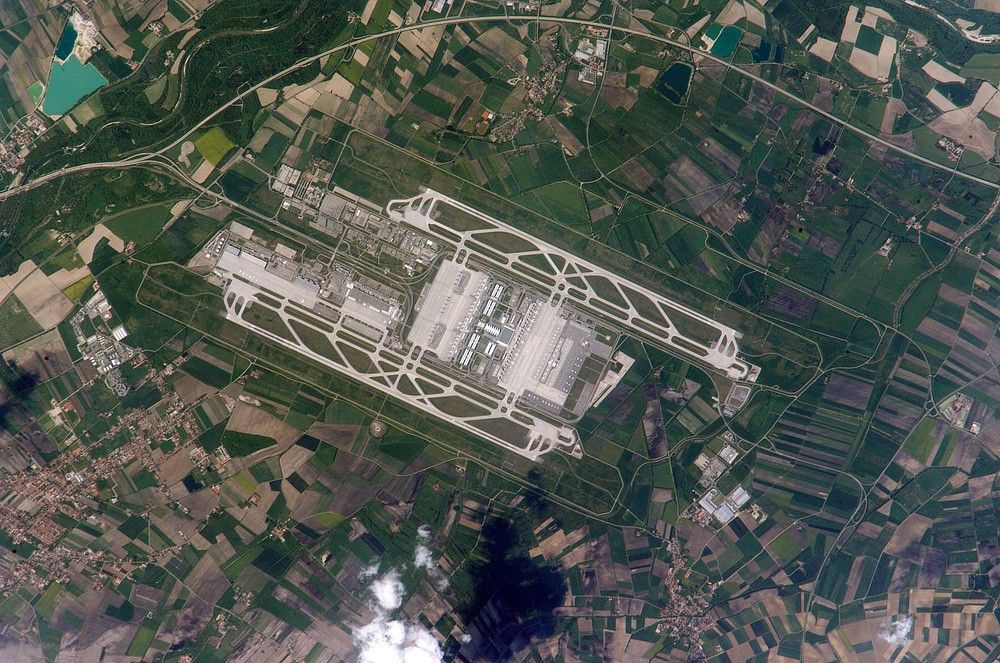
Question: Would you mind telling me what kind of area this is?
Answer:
farmland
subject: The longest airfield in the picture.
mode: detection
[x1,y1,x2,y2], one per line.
[187,181,765,477]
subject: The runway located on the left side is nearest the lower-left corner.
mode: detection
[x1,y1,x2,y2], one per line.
[219,310,545,465]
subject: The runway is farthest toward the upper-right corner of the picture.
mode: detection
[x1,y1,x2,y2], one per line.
[420,185,744,339]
